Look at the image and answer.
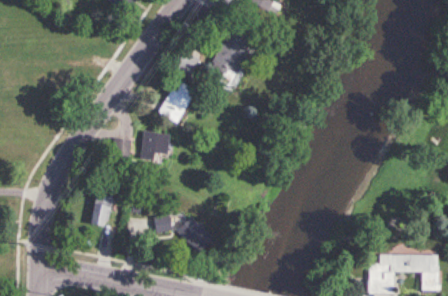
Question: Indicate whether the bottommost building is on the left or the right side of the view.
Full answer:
You can find the bottommost building on the right side of the picture.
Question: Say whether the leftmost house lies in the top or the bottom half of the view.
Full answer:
The leftmost house sits in the bottom half of the picture.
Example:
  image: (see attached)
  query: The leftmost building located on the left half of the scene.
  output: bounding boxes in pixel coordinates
[92,198,112,226]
